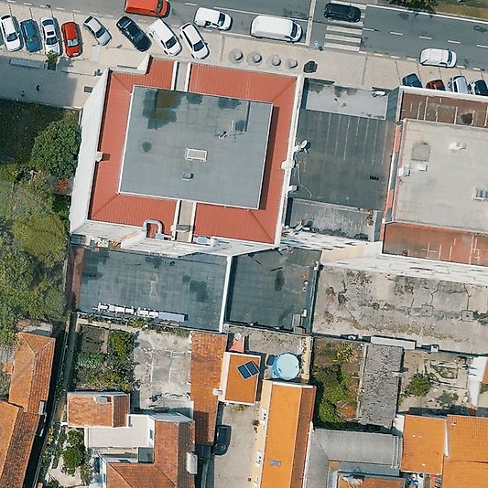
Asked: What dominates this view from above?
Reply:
buildings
